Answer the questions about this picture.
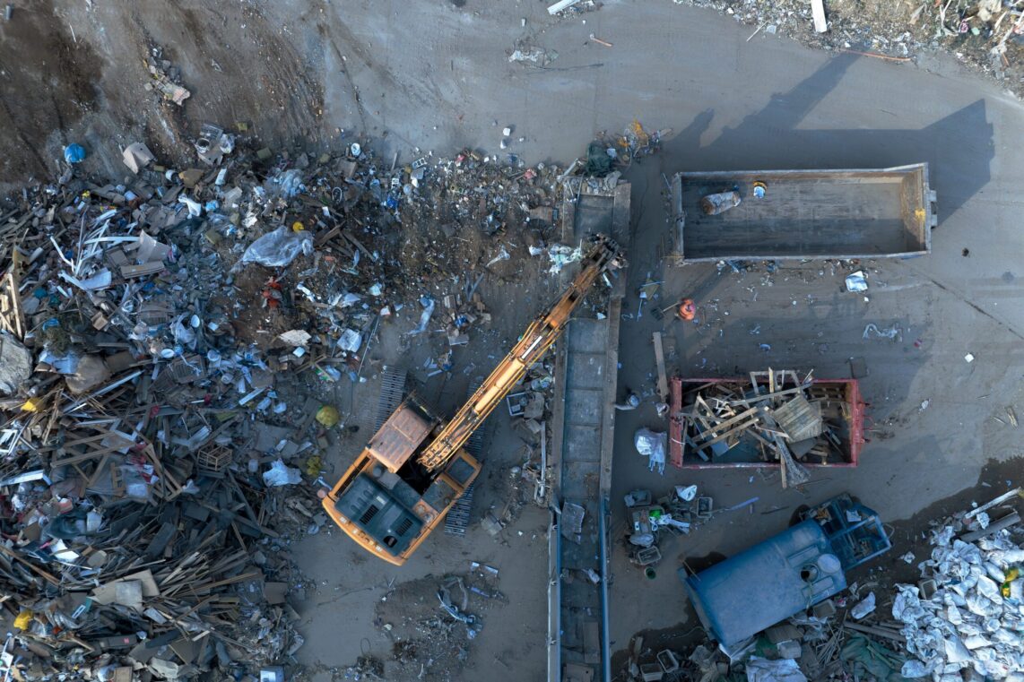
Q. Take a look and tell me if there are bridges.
No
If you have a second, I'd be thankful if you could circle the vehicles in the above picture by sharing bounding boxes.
[673,487,897,647]
[322,227,630,567]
